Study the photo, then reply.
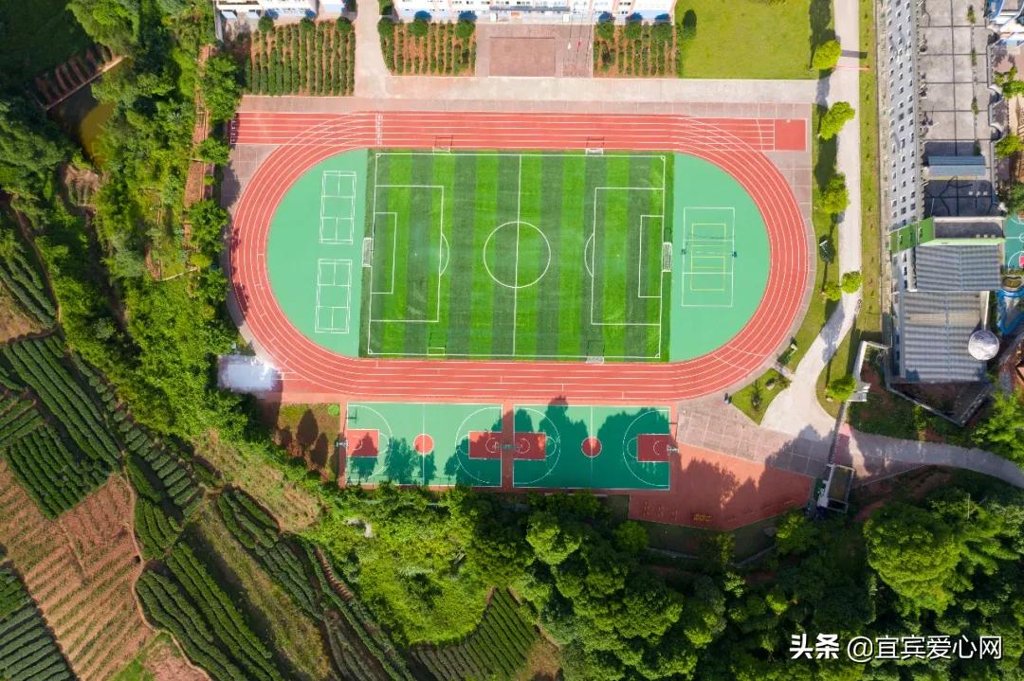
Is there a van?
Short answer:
No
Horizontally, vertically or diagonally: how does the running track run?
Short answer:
horizontally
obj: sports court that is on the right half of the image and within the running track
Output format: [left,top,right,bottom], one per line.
[682,207,734,307]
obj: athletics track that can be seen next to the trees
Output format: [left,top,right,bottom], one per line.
[229,109,810,401]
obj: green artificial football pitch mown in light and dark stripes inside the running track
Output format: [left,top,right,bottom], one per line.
[360,149,675,362]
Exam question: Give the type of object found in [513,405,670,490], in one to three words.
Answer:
basketball court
